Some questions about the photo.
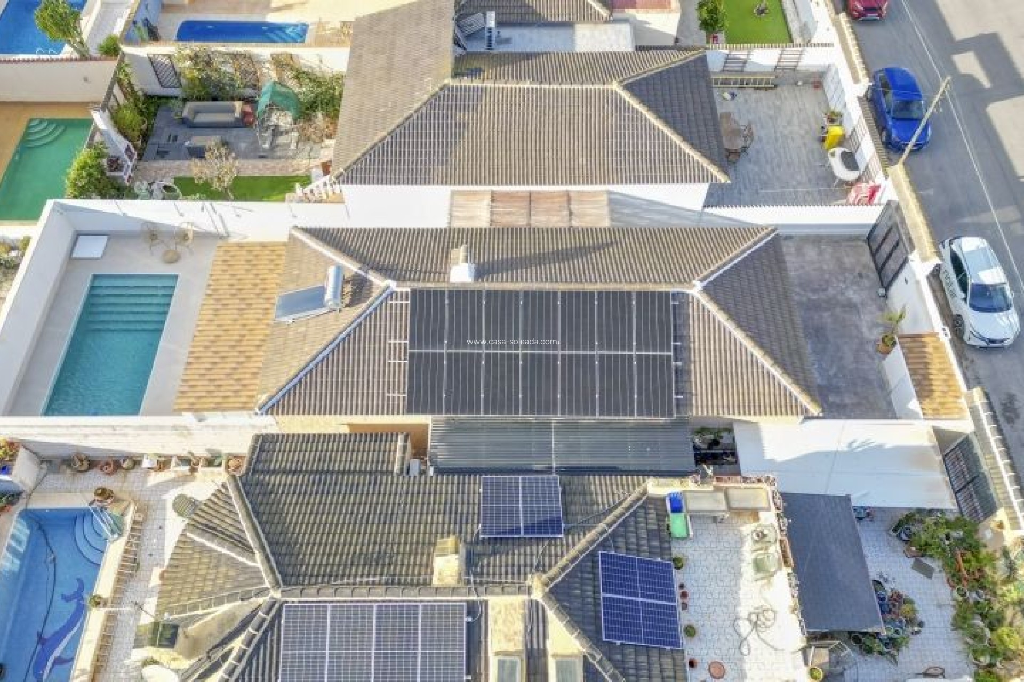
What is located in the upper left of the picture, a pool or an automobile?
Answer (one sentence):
The feature located in the upper left of the picture is a pool.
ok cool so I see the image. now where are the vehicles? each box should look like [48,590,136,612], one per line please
[930,242,1017,347]
[869,79,934,153]
[842,0,885,25]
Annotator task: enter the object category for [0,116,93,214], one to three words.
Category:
swimming pool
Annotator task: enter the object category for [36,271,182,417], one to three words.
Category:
swimming pool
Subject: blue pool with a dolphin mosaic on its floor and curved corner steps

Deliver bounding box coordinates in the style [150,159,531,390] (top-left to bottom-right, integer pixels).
[0,502,118,682]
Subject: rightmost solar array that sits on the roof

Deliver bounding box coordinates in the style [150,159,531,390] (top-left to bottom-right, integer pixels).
[599,550,682,654]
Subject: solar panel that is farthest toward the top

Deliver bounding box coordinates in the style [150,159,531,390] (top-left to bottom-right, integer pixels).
[460,13,485,33]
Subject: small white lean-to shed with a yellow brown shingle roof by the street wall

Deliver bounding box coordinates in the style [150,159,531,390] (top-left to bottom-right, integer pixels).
[882,332,969,415]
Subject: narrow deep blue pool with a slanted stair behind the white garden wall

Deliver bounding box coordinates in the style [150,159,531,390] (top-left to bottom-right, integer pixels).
[165,19,312,46]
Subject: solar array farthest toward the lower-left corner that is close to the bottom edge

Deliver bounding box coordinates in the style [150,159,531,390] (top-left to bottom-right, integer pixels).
[274,602,478,682]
